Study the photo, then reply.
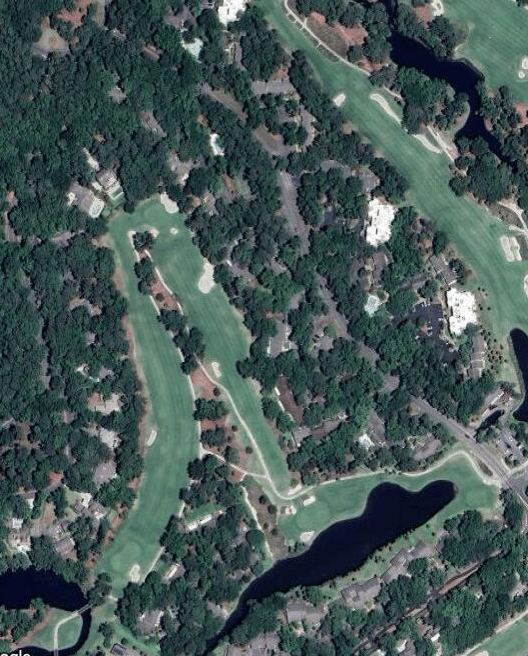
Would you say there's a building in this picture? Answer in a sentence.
Yes, the image includes a building.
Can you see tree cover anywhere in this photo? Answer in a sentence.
Yes, some tree cover is visible.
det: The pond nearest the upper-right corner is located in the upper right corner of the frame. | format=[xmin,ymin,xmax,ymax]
[356,0,519,170]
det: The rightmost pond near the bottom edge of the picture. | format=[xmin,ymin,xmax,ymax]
[201,480,457,656]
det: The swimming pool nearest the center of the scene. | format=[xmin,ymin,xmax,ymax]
[365,295,381,316]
